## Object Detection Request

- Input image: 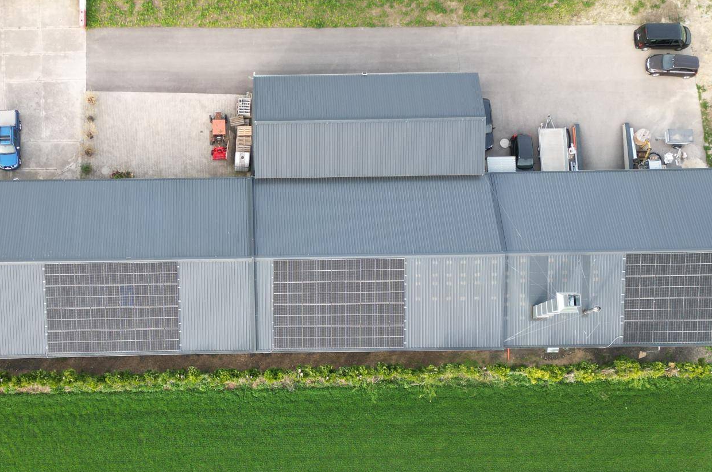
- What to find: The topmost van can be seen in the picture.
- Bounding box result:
[632,23,690,53]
